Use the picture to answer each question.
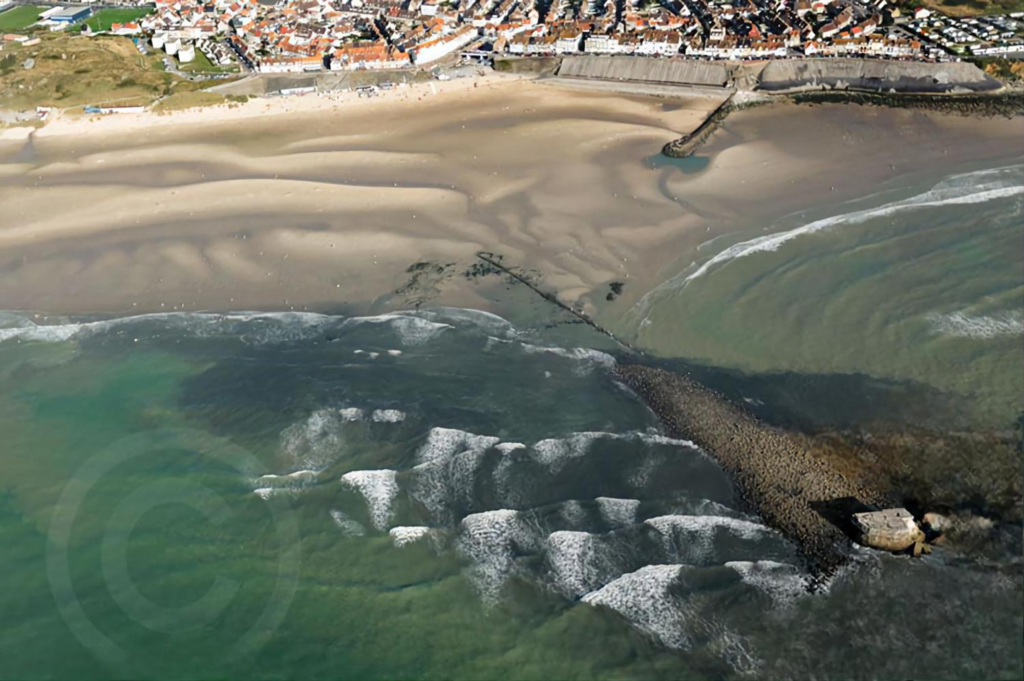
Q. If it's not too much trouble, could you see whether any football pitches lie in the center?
No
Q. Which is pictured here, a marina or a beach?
beach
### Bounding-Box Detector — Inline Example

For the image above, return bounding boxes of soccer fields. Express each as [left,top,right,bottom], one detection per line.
[0,4,50,29]
[77,7,145,32]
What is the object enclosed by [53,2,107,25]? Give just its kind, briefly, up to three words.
building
